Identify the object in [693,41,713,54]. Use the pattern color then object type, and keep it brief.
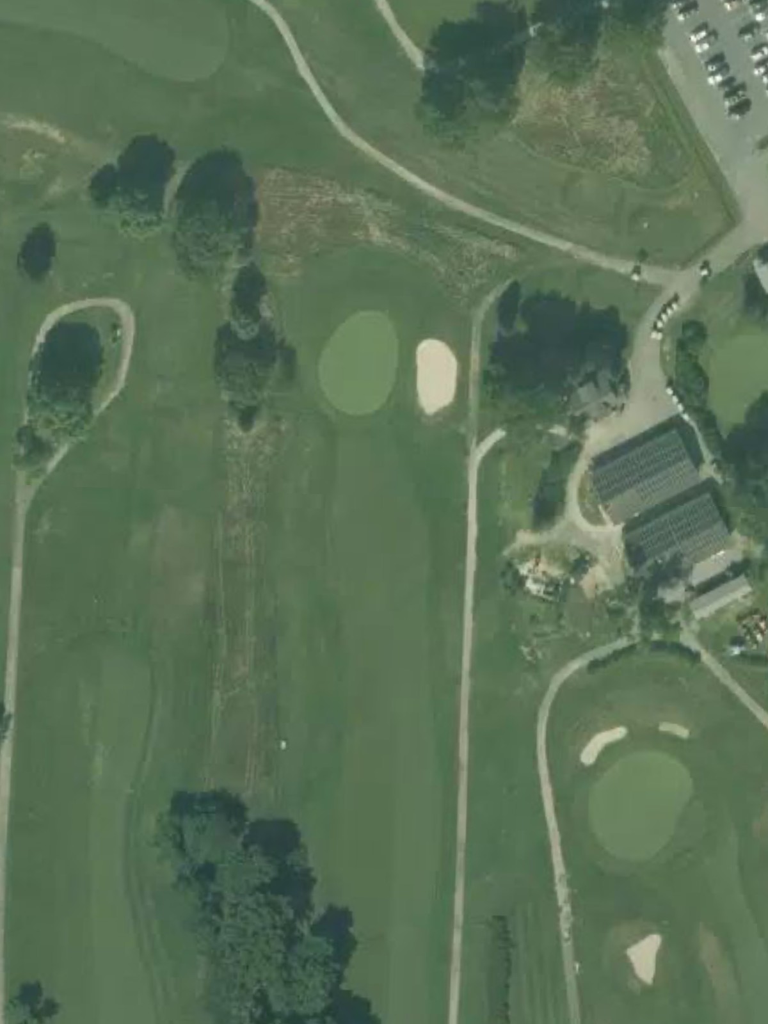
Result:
white vehicle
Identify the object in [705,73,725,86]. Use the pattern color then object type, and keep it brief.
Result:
white vehicle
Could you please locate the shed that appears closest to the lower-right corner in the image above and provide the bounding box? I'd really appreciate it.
[690,576,752,618]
